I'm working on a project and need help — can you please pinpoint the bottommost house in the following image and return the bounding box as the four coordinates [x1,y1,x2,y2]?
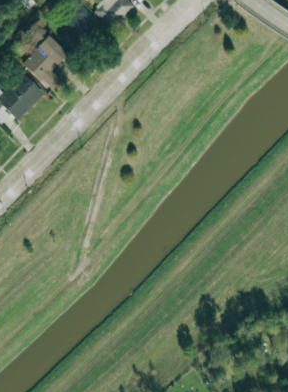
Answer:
[0,76,45,124]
